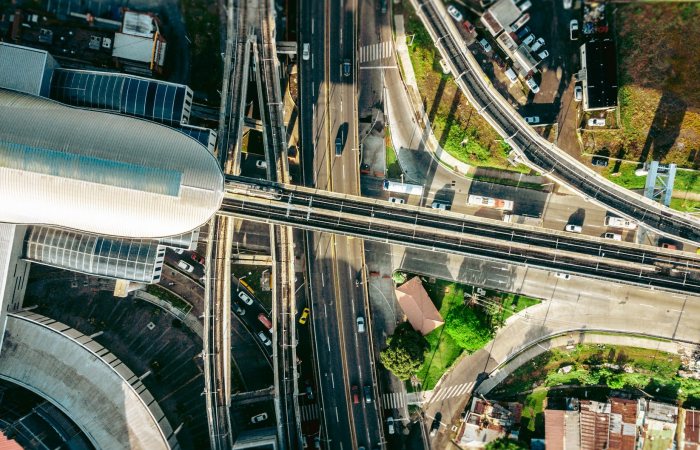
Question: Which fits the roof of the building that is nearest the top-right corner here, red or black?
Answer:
black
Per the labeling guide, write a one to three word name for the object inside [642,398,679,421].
building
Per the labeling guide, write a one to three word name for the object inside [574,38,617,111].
building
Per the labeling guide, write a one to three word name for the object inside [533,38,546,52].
vehicle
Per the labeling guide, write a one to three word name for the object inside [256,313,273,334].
vehicle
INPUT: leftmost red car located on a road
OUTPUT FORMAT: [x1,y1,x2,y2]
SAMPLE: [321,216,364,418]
[190,252,205,265]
